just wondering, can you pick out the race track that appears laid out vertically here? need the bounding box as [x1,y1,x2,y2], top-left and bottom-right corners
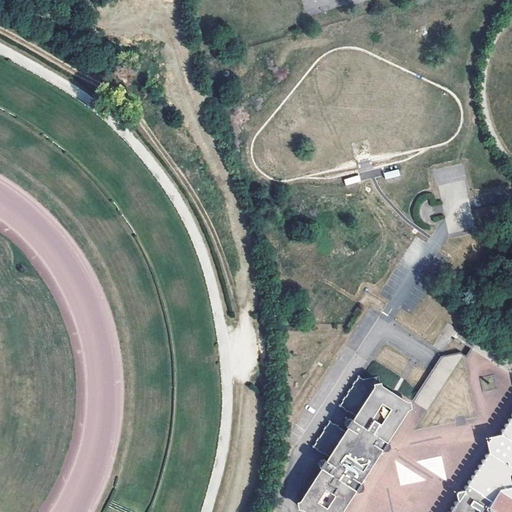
[0,173,124,512]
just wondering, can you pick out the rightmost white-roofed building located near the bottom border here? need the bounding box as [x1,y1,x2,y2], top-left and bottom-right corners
[448,410,512,512]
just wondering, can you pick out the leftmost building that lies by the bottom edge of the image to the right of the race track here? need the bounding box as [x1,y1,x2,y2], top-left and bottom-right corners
[298,376,412,512]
